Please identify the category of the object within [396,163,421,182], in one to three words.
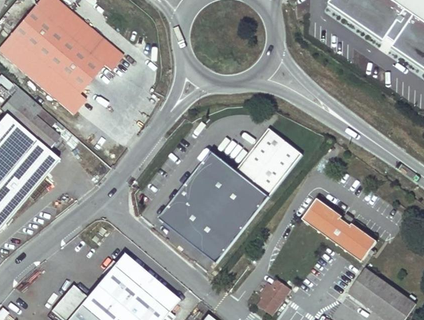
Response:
vehicle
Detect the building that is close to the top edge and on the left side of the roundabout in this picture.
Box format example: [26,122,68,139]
[0,0,125,116]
